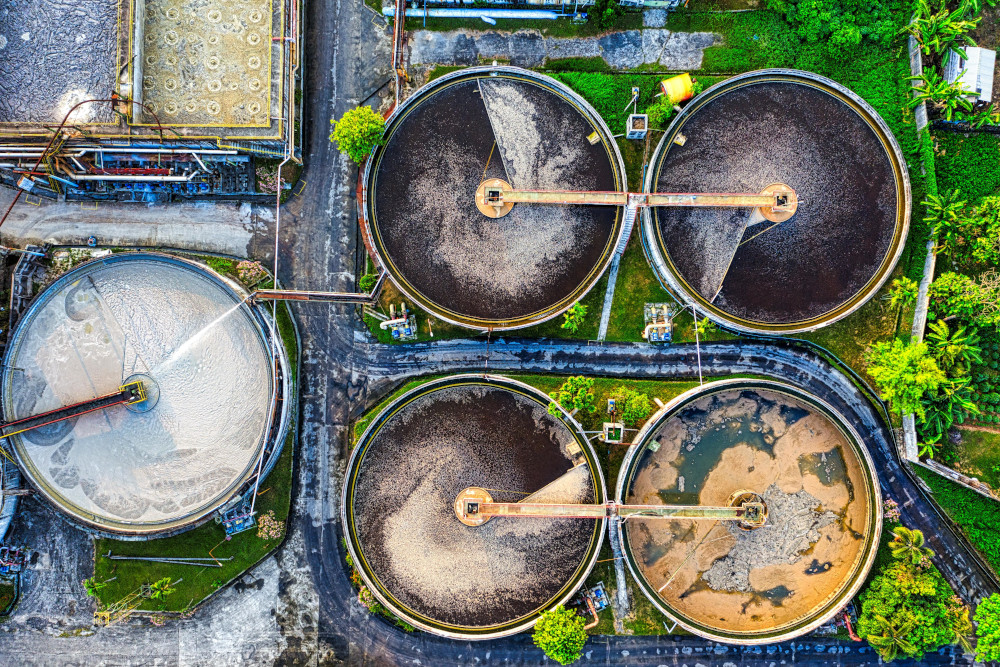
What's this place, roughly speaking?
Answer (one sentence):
This looks like an industrial area.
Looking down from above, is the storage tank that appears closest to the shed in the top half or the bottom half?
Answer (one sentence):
The storage tank that appears closest to the shed sits in the top half of the picture.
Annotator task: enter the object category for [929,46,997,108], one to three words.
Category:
shed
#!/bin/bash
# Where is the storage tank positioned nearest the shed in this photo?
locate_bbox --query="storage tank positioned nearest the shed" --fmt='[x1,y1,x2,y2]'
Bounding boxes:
[640,68,912,335]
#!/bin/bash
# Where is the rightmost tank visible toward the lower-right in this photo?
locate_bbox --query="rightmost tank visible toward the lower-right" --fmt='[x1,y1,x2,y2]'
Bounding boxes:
[612,376,884,645]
